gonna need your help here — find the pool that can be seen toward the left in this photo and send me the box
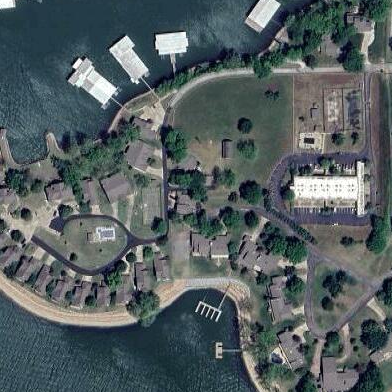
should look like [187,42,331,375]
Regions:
[92,228,115,241]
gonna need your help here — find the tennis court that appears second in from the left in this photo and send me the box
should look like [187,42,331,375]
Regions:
[324,89,342,130]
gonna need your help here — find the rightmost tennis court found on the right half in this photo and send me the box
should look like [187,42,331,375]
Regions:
[343,89,362,129]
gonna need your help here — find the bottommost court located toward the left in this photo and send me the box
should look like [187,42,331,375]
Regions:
[143,189,161,225]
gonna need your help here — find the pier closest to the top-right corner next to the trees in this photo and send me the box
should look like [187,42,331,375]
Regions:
[246,0,281,31]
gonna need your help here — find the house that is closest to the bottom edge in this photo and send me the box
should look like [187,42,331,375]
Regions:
[323,358,359,392]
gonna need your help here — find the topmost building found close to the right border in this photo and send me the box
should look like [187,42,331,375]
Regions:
[346,13,374,33]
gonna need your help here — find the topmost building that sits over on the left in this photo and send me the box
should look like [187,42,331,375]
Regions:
[130,114,160,142]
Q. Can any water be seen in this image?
Yes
